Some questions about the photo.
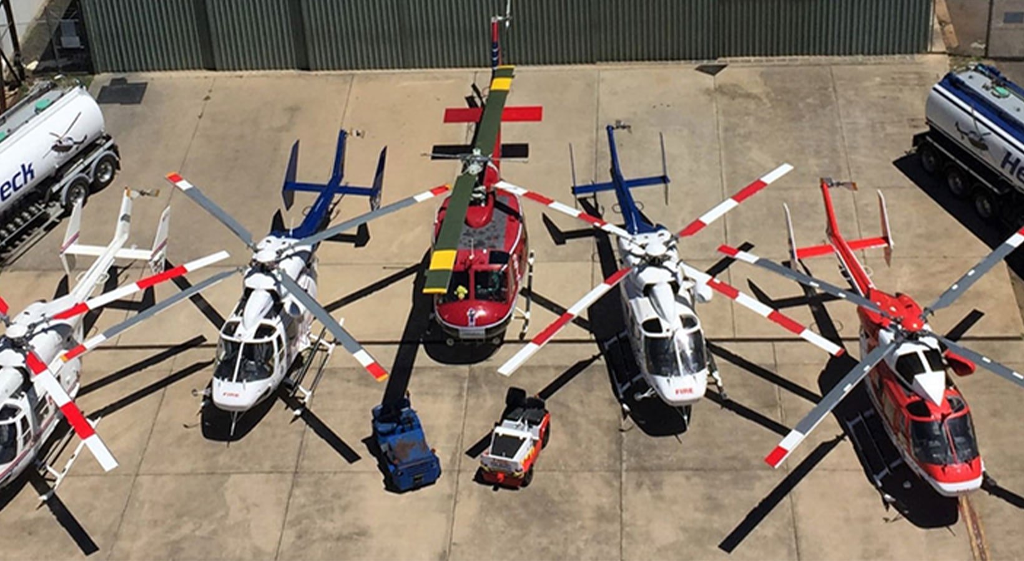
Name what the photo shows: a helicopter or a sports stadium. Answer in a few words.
helicopter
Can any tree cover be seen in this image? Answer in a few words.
No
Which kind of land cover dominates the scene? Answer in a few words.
paved ground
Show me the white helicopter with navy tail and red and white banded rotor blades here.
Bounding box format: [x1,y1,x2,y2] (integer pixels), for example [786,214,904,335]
[495,117,844,440]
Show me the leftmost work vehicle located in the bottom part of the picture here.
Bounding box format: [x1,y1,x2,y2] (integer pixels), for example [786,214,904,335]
[371,387,435,491]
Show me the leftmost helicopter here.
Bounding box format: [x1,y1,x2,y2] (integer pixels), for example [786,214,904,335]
[0,183,229,497]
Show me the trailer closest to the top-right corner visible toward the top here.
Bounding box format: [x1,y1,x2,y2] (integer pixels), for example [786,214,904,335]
[898,59,1024,222]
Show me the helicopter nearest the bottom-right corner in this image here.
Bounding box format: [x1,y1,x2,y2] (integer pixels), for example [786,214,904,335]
[720,176,1024,499]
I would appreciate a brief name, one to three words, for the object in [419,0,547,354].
helicopter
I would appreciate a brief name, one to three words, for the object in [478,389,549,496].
work vehicle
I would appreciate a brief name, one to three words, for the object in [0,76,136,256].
trailer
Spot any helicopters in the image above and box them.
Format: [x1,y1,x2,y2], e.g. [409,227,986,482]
[0,183,229,497]
[62,123,451,445]
[419,0,547,354]
[720,176,1024,499]
[495,117,844,440]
